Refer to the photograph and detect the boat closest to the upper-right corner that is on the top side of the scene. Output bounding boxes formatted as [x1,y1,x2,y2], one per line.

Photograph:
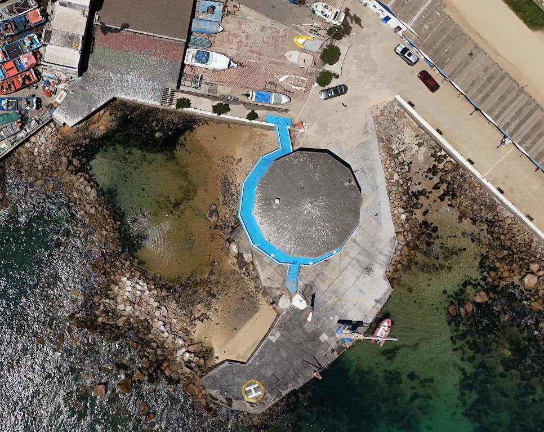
[313,1,345,26]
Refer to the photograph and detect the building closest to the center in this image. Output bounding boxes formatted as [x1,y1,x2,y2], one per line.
[239,115,361,292]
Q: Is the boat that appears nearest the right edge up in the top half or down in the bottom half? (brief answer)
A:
bottom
